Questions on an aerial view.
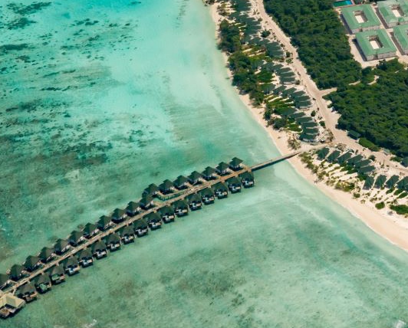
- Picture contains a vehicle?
No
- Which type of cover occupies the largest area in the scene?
water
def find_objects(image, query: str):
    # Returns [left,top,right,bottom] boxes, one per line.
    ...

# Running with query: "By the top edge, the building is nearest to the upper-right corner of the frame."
[378,0,408,28]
